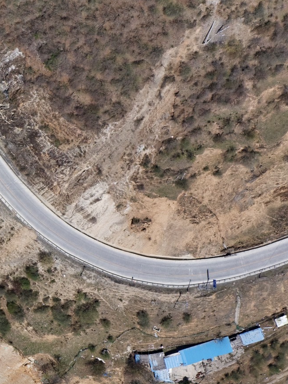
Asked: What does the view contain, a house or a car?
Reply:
house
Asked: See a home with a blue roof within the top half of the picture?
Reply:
No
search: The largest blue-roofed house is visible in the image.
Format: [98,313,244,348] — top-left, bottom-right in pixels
[174,337,233,366]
